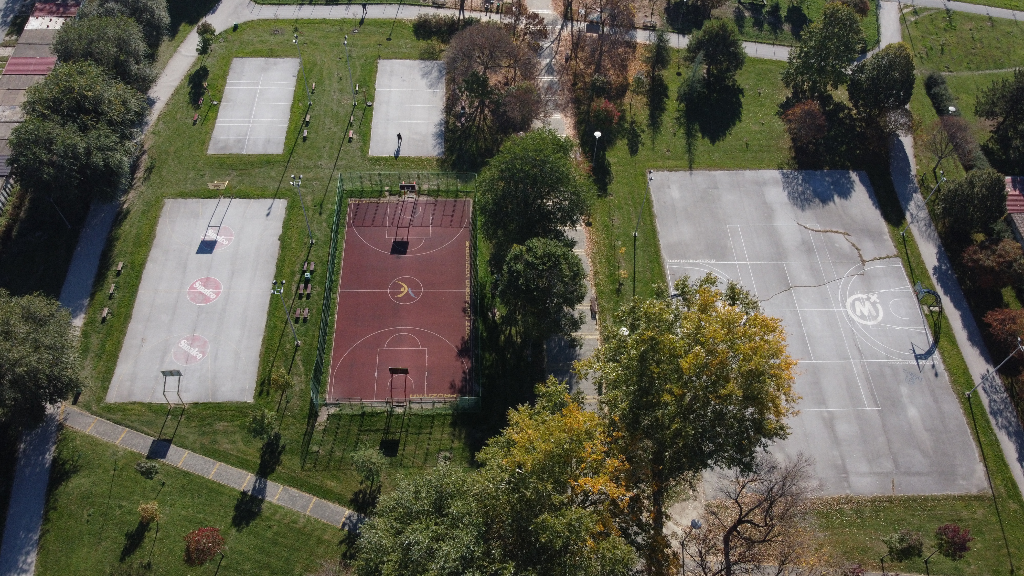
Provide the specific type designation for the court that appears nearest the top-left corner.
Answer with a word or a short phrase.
tennis court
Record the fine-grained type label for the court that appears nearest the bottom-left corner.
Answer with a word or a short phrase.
basketball court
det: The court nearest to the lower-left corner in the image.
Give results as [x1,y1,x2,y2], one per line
[106,199,287,403]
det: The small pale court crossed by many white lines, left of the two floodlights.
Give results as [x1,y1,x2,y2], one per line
[208,57,300,154]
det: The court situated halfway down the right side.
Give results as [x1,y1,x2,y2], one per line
[649,170,987,497]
